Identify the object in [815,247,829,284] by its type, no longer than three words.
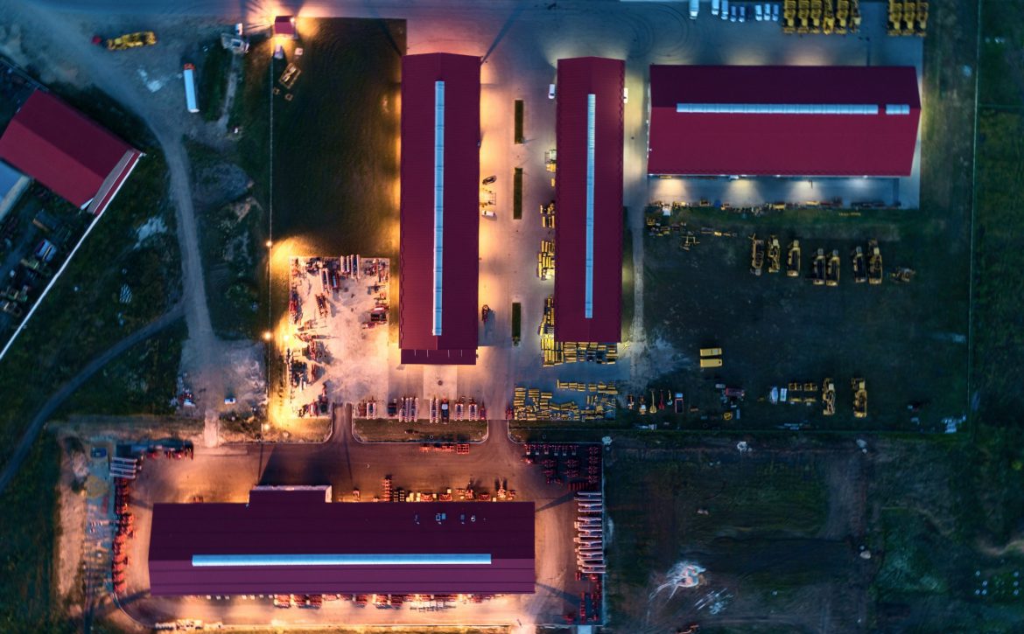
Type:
work vehicle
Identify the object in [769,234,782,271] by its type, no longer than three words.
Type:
vehicle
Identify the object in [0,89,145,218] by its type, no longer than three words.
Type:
warehouse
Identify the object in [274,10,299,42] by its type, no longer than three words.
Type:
building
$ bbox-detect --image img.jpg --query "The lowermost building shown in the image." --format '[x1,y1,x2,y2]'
[141,486,535,596]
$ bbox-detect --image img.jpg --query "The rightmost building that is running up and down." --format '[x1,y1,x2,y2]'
[555,55,625,342]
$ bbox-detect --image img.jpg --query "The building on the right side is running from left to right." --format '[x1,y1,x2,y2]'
[647,65,924,179]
